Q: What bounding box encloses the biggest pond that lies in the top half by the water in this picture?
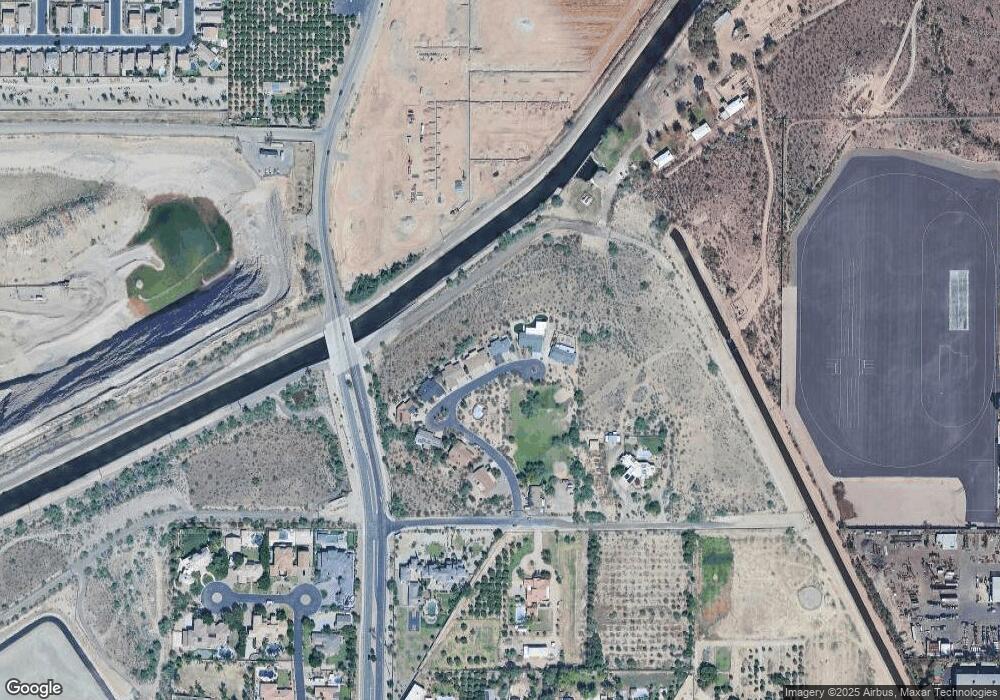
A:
[127,196,232,313]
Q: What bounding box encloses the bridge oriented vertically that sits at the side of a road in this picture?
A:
[325,316,362,377]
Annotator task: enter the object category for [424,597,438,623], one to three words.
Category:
swimming pool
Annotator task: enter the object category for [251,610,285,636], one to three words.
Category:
house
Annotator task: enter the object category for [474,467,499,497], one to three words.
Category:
house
